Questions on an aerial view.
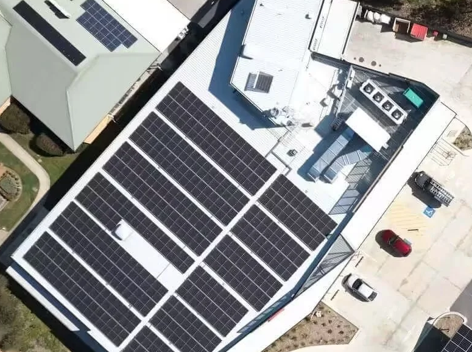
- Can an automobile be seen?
Yes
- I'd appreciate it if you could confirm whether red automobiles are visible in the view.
Yes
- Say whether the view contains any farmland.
No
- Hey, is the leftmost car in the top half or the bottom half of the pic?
bottom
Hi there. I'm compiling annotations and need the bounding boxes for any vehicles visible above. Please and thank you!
[411,171,457,210]
[342,272,381,305]
[377,229,415,259]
